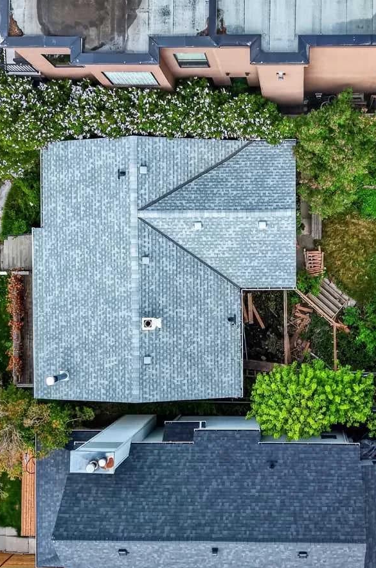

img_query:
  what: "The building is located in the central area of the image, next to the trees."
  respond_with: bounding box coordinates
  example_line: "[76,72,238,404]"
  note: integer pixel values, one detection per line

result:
[31,135,297,402]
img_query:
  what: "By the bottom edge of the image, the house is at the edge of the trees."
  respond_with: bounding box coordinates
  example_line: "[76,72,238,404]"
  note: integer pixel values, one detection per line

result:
[34,413,376,568]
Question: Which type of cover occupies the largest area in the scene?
buildings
